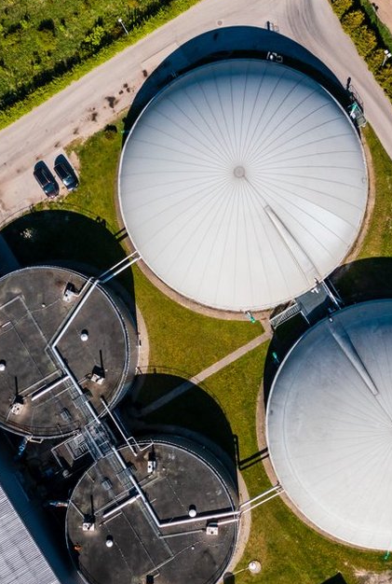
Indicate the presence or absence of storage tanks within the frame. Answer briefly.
Yes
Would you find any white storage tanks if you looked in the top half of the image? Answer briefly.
Yes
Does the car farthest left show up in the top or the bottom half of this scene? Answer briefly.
top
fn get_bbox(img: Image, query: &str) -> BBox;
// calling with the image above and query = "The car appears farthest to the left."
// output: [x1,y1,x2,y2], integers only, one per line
[32,164,58,195]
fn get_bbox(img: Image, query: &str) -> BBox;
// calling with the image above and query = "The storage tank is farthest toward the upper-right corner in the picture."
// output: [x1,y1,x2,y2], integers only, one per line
[117,59,368,312]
